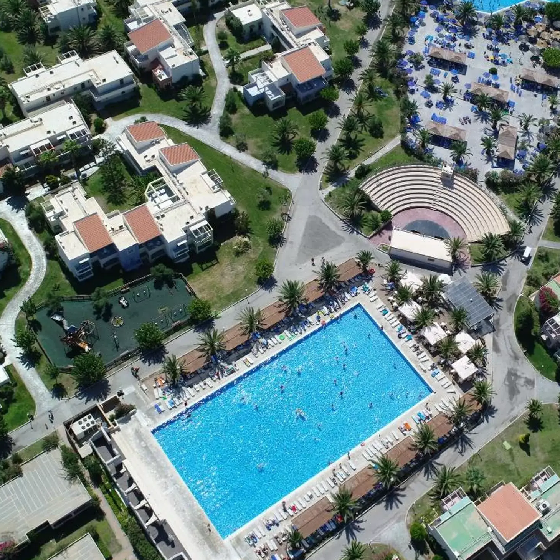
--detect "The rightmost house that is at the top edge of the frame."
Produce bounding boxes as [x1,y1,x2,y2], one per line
[228,0,329,109]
